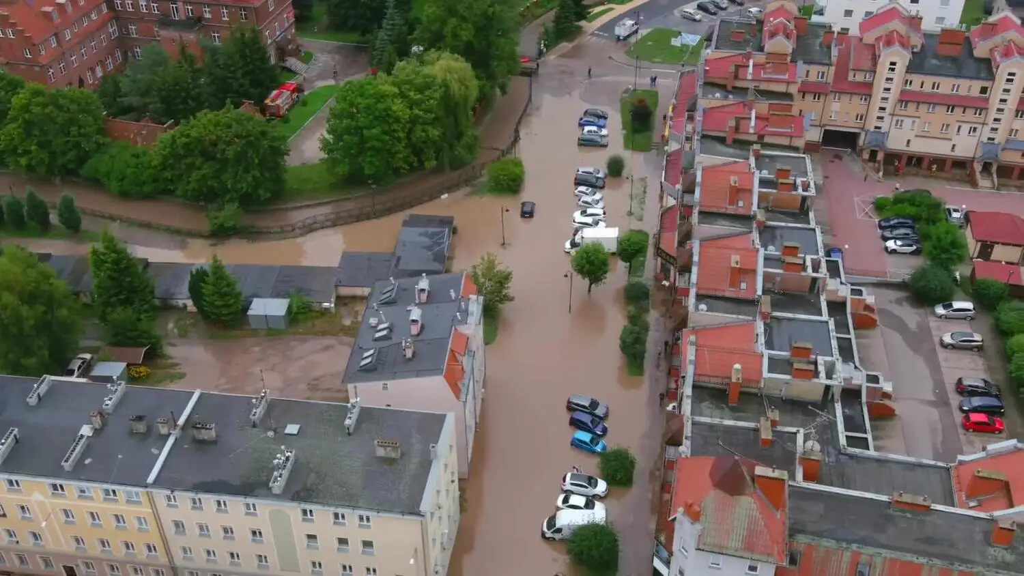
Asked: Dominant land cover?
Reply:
buildings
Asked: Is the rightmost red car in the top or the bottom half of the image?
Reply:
bottom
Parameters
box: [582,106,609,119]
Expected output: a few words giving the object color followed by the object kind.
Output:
gray vehicle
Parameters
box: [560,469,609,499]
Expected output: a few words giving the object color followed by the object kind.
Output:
white car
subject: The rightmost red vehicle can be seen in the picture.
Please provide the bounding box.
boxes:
[959,413,1006,437]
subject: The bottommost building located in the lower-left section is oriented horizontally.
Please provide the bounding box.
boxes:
[0,374,456,576]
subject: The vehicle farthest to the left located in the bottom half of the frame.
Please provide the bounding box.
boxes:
[64,351,99,374]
